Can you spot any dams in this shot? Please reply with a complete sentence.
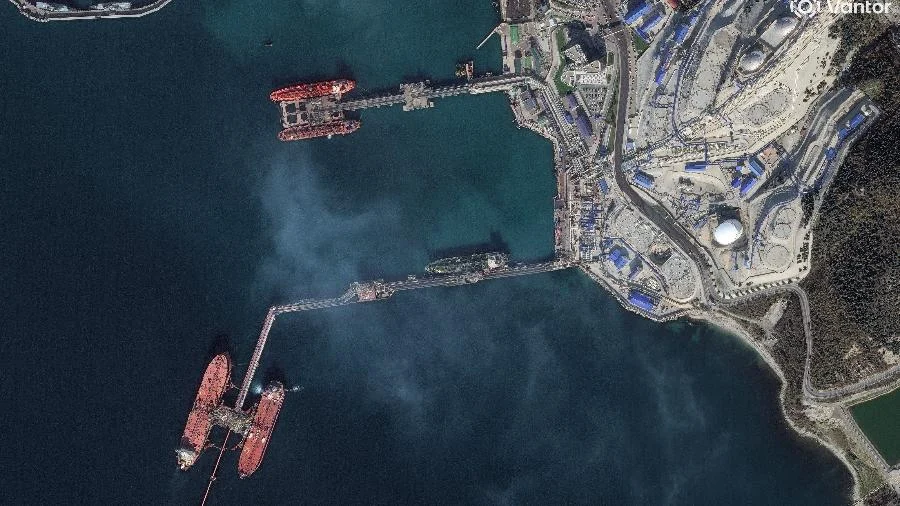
Yes, looking at the shot, I can spot a dam.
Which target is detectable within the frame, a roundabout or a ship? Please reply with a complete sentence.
The image shows a ship.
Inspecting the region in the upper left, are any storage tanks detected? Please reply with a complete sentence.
No, I see no storage tank in the upper left.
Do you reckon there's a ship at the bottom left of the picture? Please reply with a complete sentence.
Yes, a ship appears at the bottom left of the picture.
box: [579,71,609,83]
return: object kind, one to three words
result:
building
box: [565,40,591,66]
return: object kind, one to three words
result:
building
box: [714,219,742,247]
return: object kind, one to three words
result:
storage tank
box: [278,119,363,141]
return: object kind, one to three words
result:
ship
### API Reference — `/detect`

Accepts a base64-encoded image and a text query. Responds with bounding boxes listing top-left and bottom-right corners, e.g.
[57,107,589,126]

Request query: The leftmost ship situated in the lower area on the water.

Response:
[177,353,227,471]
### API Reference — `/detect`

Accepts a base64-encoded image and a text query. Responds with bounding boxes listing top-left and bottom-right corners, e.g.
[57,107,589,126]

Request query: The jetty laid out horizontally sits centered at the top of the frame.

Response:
[279,72,535,130]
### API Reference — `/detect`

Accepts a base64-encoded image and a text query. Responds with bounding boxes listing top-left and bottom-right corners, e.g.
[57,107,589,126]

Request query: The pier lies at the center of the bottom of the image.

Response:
[203,260,580,506]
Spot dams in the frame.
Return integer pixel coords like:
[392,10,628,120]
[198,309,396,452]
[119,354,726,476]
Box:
[837,406,893,474]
